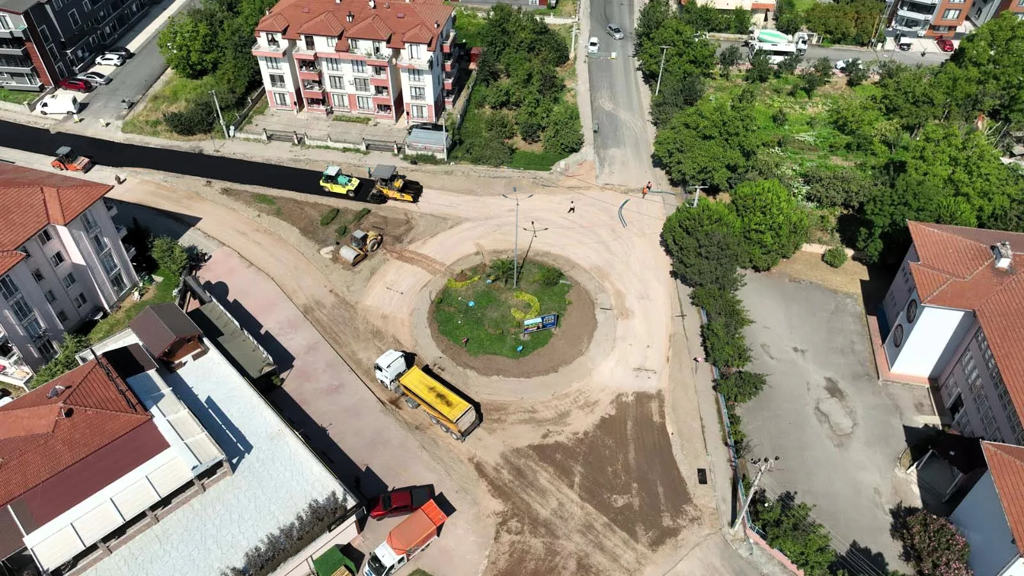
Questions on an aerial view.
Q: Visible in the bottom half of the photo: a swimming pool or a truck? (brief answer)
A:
truck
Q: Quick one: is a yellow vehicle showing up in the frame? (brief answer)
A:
Yes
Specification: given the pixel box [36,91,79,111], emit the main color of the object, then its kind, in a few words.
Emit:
white vehicle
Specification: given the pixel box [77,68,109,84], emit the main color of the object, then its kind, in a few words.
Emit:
gray car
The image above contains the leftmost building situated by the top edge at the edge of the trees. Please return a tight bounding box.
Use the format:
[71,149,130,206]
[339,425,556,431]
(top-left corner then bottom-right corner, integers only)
[0,0,193,94]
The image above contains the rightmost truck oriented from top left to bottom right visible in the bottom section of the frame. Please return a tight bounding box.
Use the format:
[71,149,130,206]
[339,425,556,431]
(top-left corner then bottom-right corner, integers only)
[366,350,477,435]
